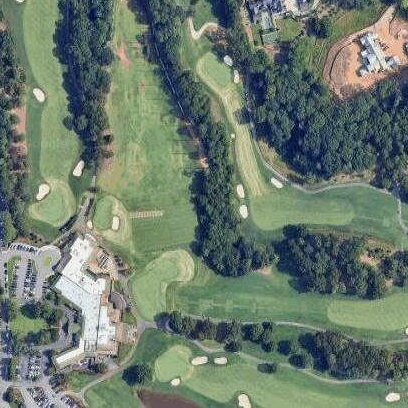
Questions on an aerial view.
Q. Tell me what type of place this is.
golf course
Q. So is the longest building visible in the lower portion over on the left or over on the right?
left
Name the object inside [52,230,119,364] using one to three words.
building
